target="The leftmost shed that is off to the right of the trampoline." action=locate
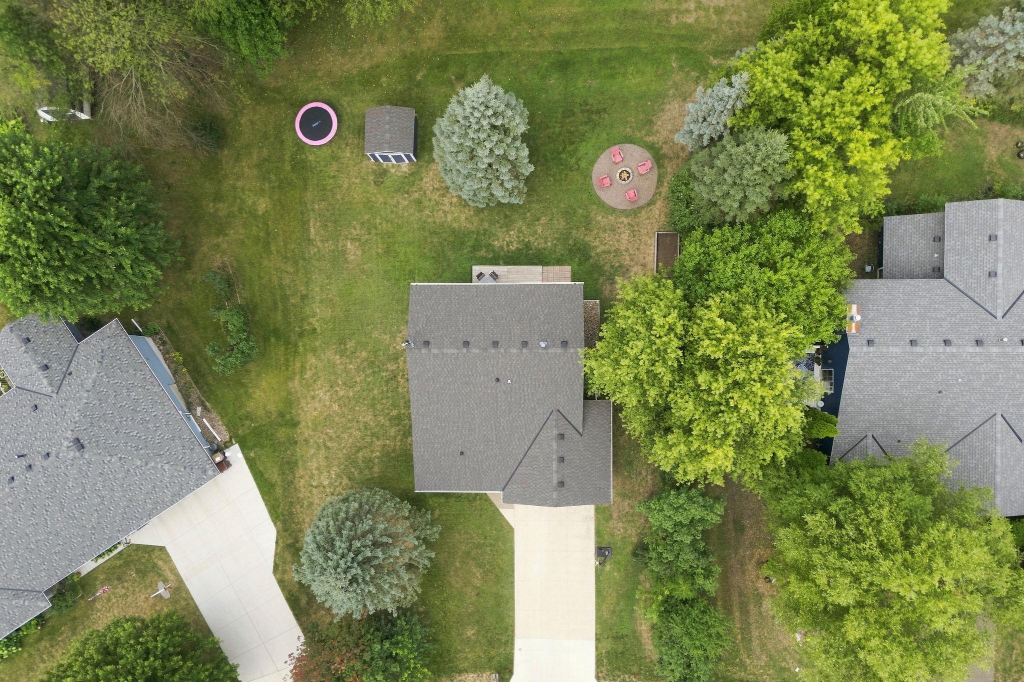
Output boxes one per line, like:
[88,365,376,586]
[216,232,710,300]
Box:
[365,105,416,162]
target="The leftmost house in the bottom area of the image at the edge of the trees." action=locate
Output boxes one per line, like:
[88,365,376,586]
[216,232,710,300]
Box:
[0,303,226,640]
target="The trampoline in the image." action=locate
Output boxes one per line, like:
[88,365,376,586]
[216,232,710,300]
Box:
[296,103,337,145]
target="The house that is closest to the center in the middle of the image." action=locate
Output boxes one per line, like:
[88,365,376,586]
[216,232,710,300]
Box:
[402,281,613,508]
